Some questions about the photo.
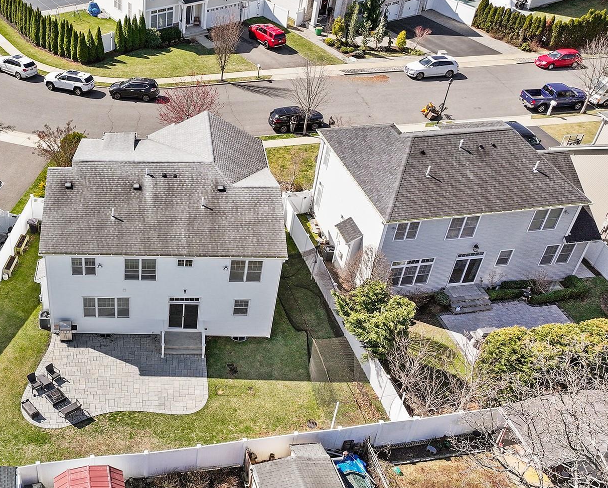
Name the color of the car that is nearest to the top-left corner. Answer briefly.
white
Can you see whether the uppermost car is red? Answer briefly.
Yes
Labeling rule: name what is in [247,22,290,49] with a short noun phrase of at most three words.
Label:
car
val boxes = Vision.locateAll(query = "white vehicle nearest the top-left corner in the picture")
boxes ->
[0,50,41,79]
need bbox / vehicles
[0,50,41,79]
[400,49,464,78]
[500,106,553,152]
[247,22,290,49]
[264,101,330,133]
[103,72,162,100]
[531,44,589,68]
[38,65,98,95]
[517,79,596,111]
[583,70,608,105]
